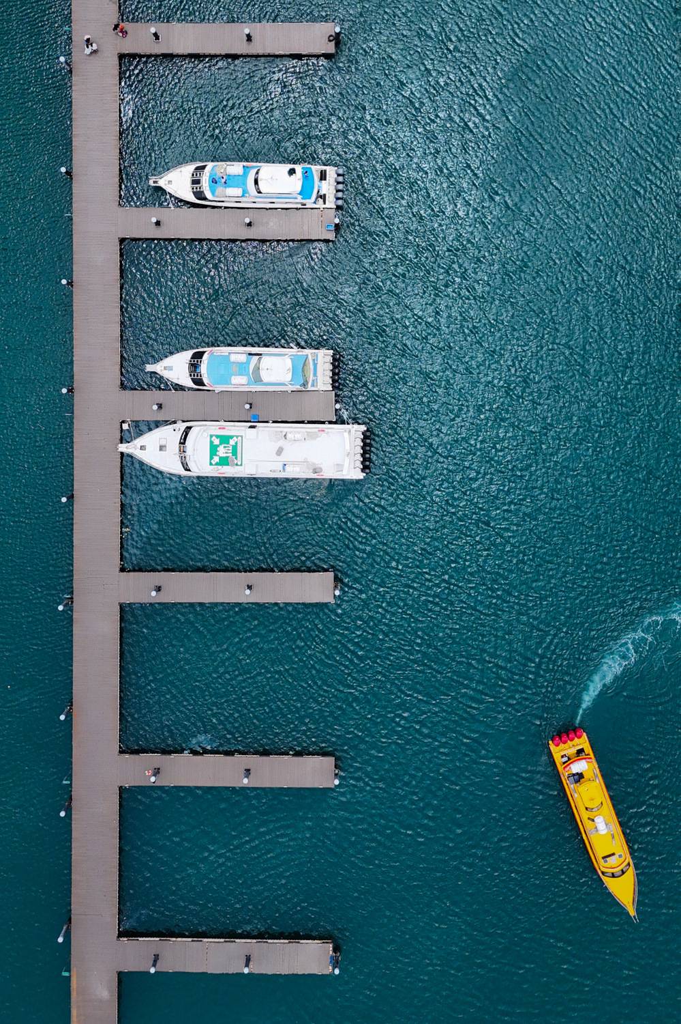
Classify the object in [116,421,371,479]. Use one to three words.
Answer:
boat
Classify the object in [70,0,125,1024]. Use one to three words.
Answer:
pier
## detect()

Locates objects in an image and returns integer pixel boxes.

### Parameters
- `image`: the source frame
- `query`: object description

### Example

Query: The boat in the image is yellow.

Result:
[548,724,639,922]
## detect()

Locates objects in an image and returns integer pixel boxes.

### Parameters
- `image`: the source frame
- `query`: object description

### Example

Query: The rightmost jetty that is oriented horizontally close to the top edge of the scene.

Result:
[119,23,336,60]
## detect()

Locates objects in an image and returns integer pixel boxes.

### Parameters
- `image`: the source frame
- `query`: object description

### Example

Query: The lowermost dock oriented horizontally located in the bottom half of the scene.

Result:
[118,931,332,974]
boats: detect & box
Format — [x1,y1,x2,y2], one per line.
[548,724,639,922]
[116,421,371,479]
[149,162,344,209]
[146,343,340,392]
